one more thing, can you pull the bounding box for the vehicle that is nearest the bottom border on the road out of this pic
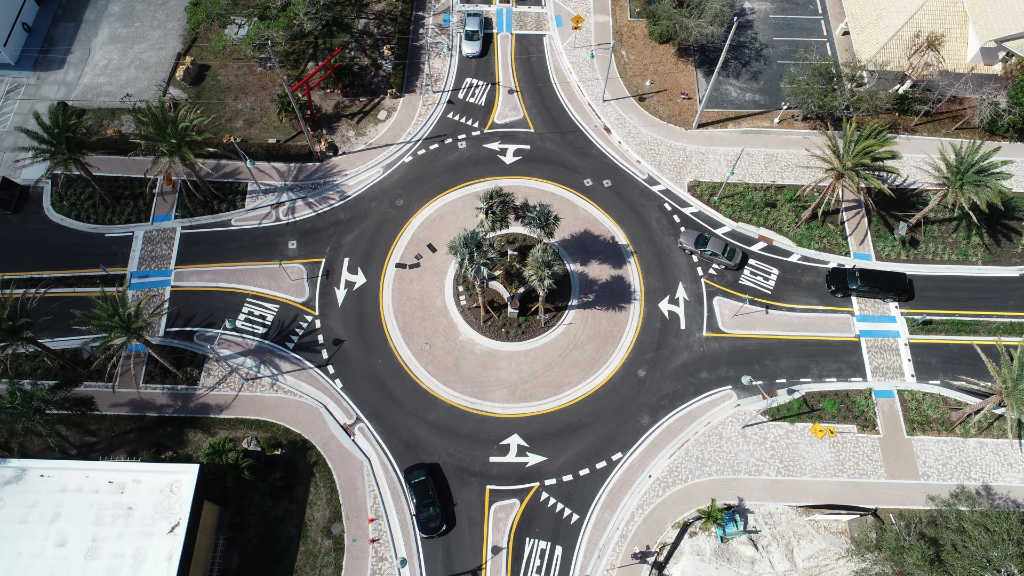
[403,465,446,541]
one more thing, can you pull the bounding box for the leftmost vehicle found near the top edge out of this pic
[460,11,486,58]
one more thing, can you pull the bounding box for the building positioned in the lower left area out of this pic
[0,459,230,576]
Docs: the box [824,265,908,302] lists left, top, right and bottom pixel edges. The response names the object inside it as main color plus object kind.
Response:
black truck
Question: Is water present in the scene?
No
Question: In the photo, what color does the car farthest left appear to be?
black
